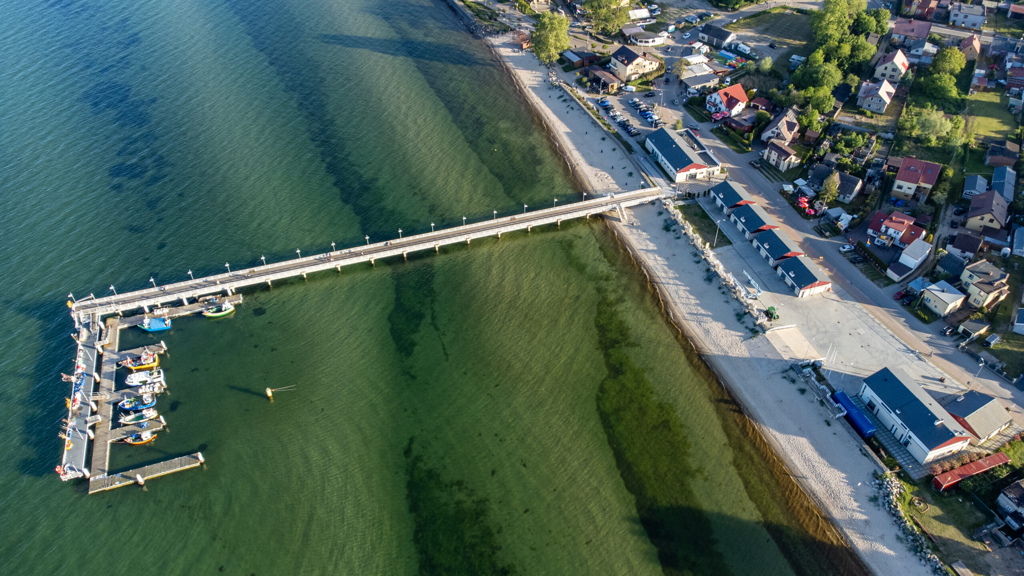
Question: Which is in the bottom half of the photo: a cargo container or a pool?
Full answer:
Visible in the bottom half of the photo is a cargo container.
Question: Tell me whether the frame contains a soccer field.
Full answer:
No, I can see no soccer field in this picture.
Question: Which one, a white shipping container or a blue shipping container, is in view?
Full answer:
Visible in the photo is a blue shipping container.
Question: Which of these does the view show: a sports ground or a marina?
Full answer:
This image shows a marina.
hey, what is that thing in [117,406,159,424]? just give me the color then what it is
white boat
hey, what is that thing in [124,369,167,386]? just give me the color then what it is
white boat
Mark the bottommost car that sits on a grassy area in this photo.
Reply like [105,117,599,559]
[983,333,1001,346]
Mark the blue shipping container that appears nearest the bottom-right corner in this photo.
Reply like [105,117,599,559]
[847,410,876,438]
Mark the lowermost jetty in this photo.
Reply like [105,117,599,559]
[89,452,200,495]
